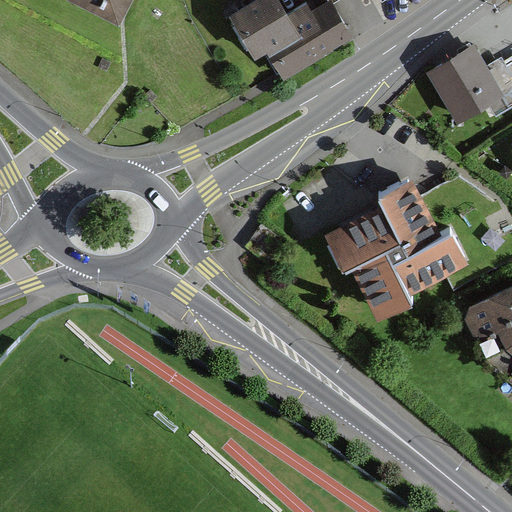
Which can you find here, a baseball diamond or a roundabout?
roundabout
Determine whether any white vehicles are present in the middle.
Yes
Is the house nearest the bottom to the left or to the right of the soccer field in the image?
to the right of it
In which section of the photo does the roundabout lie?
left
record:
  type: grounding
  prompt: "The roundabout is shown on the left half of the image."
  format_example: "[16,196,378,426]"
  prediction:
[55,178,166,268]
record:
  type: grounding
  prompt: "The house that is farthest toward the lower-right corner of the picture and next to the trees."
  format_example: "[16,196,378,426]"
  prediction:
[462,285,512,358]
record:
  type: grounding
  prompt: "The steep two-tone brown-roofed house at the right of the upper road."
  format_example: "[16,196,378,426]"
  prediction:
[426,45,504,124]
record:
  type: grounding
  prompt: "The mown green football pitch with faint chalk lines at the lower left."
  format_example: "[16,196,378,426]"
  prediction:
[0,307,414,512]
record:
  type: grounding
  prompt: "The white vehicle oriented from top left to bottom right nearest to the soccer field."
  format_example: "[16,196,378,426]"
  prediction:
[148,188,169,212]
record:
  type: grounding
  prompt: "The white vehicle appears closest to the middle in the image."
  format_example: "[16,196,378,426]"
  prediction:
[296,191,314,212]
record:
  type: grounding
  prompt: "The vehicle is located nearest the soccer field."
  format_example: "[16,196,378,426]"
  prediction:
[68,248,89,264]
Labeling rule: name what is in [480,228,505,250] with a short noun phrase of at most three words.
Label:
gazebo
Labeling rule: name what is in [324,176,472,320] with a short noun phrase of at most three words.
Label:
house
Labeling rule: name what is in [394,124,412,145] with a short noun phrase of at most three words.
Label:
car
